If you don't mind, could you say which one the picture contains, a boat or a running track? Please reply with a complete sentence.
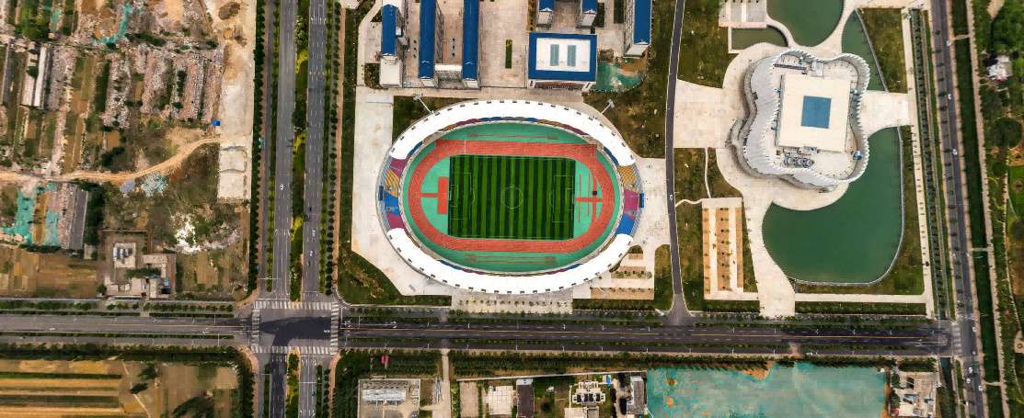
Visible in the photo is a running track.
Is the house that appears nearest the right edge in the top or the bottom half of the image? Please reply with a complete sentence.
It is in the top half that the house that appears nearest the right edge appears.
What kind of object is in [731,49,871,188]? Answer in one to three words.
building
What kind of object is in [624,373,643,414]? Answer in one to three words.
house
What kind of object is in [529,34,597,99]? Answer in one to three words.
building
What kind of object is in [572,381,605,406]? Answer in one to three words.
house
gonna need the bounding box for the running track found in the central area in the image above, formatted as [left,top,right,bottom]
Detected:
[403,122,620,271]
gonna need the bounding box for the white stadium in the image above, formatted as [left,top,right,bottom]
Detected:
[378,99,645,294]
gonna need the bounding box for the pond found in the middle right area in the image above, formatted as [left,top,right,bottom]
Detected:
[762,128,904,283]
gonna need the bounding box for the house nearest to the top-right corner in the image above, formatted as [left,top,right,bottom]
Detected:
[982,56,1012,82]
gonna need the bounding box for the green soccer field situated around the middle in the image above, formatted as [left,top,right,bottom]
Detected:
[448,156,575,238]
